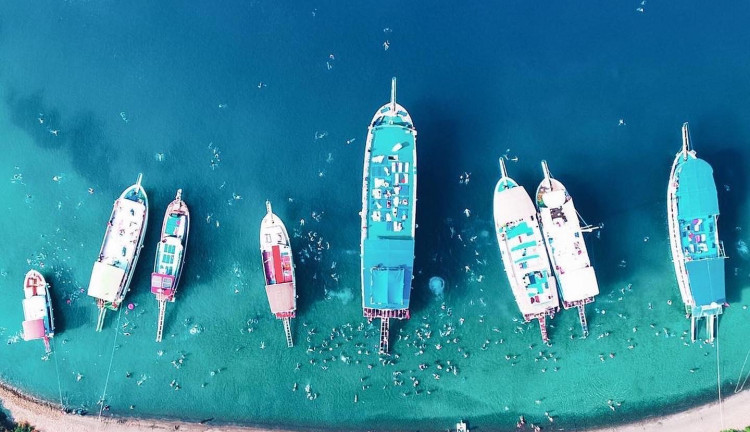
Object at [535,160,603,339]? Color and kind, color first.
white boat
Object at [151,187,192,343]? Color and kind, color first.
white boat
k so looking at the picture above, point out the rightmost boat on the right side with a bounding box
[662,122,731,343]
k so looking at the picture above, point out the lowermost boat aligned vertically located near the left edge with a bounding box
[22,266,61,353]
